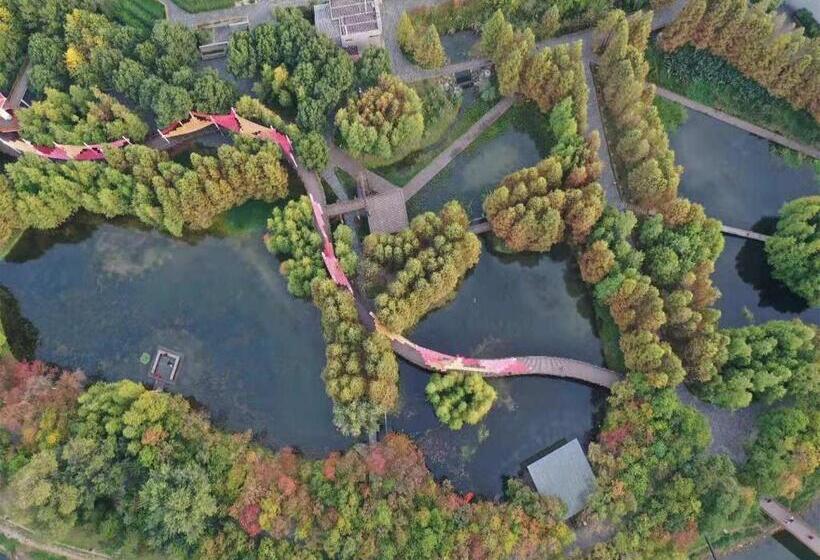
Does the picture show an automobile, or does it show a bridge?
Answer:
bridge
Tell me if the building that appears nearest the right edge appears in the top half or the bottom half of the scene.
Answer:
bottom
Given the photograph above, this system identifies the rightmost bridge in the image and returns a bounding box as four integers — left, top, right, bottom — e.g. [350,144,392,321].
[746,491,820,558]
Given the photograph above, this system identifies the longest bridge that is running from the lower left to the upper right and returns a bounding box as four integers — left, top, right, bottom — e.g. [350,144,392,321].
[401,103,513,197]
